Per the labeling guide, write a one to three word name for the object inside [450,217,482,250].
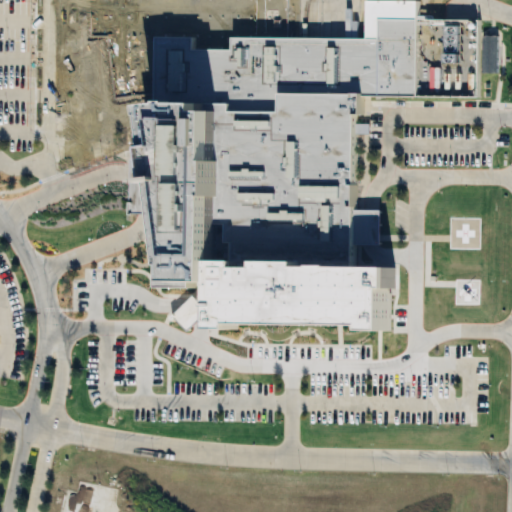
helipad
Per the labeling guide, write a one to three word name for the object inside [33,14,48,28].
vehicle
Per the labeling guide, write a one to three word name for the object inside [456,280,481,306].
helipad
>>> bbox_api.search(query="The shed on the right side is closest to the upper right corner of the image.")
[482,35,500,73]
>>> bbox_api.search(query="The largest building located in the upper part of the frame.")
[126,1,422,330]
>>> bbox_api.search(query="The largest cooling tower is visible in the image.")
[444,23,461,54]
